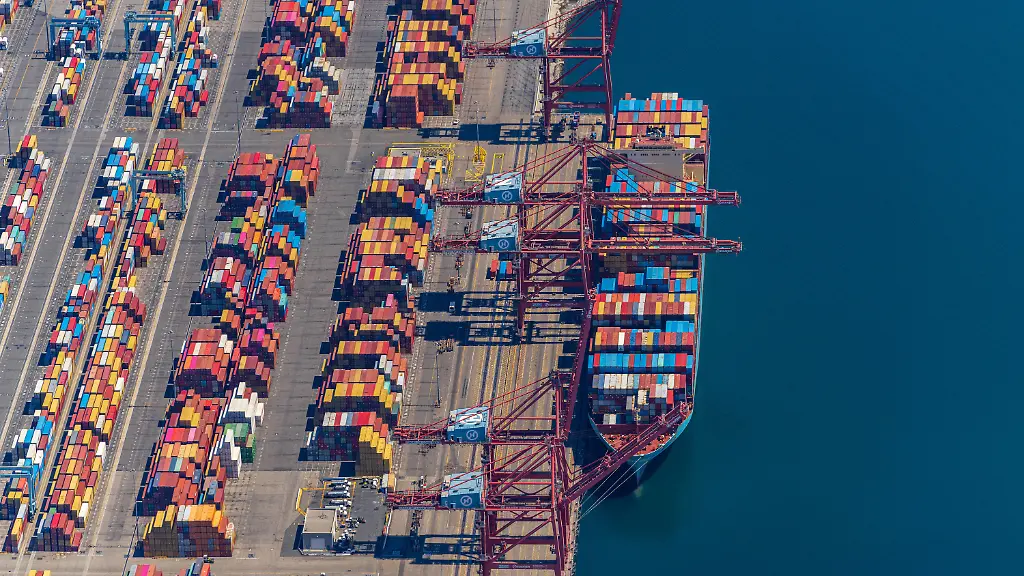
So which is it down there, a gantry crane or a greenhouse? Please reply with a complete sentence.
There is a gantry crane in the scene.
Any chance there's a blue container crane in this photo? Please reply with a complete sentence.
Yes, I can see a blue container crane in this picture.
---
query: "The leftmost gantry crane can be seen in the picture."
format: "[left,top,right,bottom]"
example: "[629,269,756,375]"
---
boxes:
[0,463,39,521]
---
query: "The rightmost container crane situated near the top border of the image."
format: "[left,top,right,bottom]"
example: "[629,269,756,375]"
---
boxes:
[465,0,621,153]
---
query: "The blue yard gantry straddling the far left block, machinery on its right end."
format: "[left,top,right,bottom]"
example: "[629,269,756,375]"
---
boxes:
[45,11,103,61]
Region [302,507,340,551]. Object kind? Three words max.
building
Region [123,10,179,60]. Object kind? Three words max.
container crane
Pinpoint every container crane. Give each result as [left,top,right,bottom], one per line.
[123,10,179,60]
[465,0,621,153]
[45,11,103,61]
[393,282,595,572]
[435,133,741,316]
[431,180,740,355]
[130,166,190,220]
[0,463,39,521]
[386,401,693,576]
